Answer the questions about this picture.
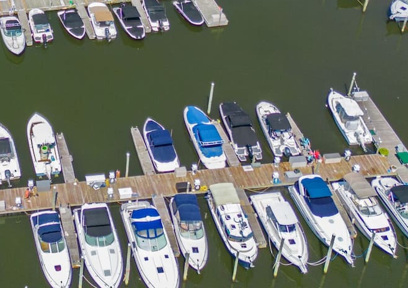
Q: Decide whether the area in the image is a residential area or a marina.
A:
marina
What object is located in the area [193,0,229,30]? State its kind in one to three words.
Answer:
pier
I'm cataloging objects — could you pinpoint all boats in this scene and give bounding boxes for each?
[203,173,255,271]
[27,111,64,180]
[328,88,374,156]
[120,202,172,288]
[110,5,143,41]
[0,122,22,190]
[186,106,231,170]
[143,0,171,35]
[30,211,71,288]
[364,179,408,243]
[250,195,307,274]
[79,204,126,288]
[258,101,301,161]
[144,118,179,174]
[330,180,399,260]
[28,8,55,49]
[88,1,116,45]
[388,0,408,26]
[172,193,208,274]
[172,0,203,27]
[291,173,355,267]
[57,9,85,41]
[0,16,26,57]
[220,103,263,166]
